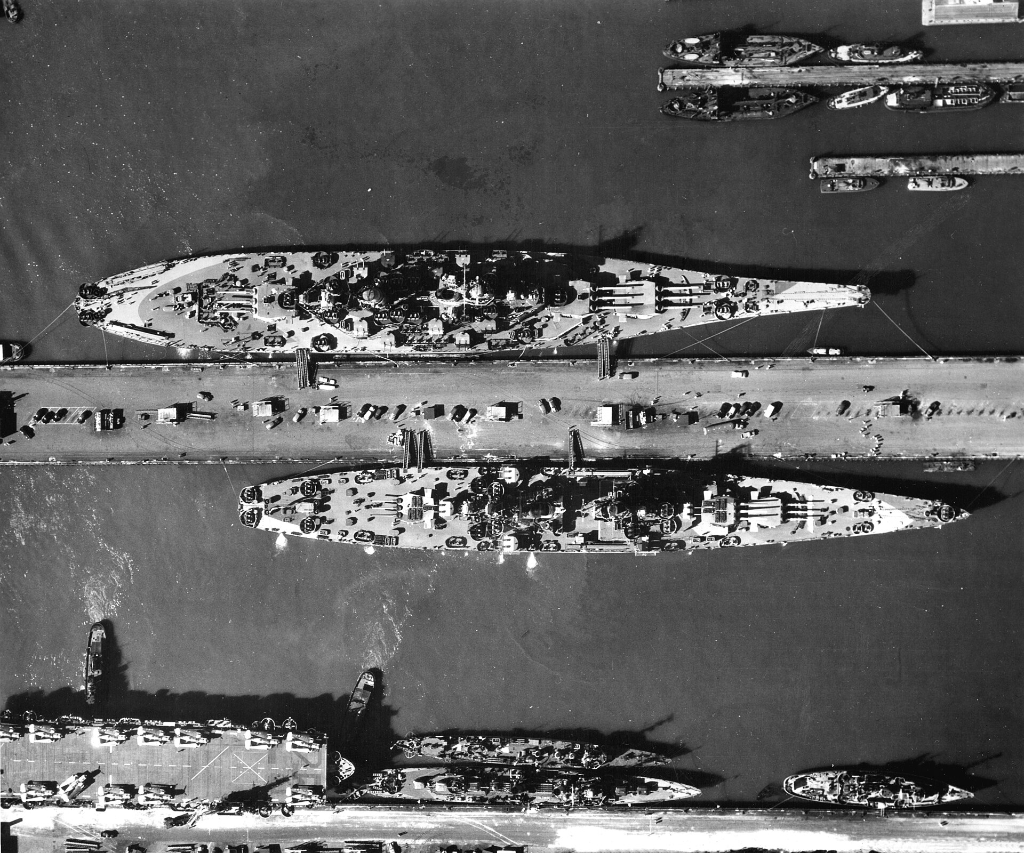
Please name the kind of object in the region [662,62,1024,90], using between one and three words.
pier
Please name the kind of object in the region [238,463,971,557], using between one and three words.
boat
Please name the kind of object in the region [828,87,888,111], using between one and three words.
boat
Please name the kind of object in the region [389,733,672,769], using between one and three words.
ship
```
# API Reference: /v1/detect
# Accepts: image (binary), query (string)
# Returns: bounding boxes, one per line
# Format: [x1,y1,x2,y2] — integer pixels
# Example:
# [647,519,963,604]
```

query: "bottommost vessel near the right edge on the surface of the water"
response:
[782,764,975,809]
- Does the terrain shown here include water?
Yes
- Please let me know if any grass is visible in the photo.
No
